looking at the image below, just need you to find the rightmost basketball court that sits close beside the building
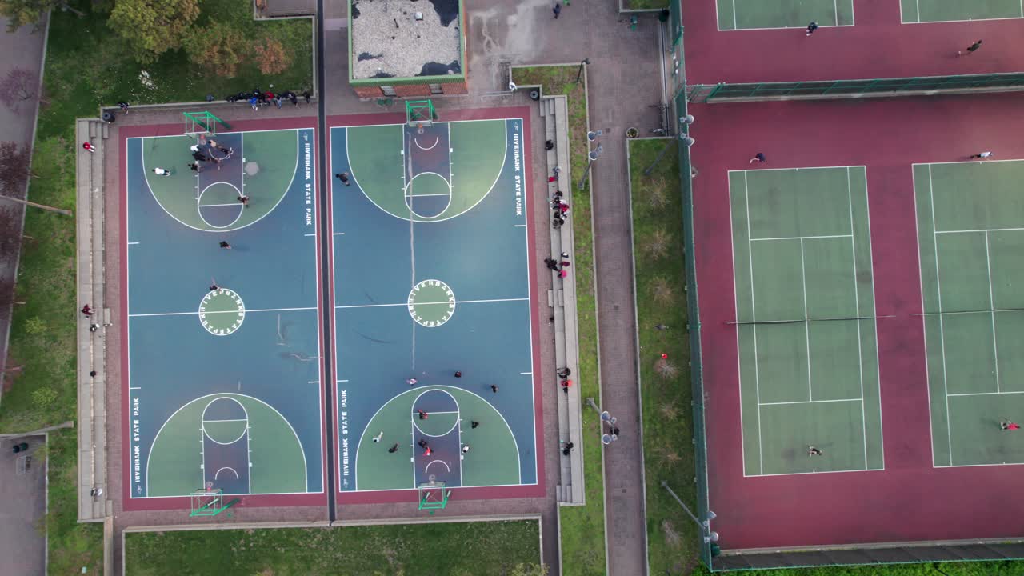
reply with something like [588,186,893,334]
[328,107,545,504]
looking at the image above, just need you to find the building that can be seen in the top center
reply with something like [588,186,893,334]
[348,0,467,99]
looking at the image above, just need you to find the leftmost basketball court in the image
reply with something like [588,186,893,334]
[119,118,328,510]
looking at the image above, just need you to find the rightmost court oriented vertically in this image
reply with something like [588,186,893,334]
[913,160,1024,467]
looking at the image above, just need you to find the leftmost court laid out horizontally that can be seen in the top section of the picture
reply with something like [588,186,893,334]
[716,0,855,31]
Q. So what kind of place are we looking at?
sports ground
